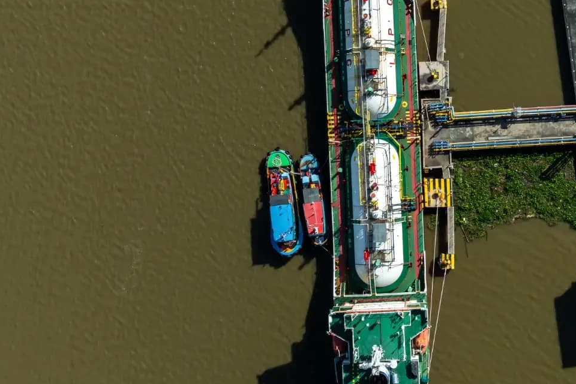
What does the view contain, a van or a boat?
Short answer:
boat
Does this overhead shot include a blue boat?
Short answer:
Yes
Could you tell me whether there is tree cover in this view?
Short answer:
No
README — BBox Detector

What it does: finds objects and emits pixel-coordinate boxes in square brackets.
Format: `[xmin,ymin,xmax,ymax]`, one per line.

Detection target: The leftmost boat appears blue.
[264,148,304,258]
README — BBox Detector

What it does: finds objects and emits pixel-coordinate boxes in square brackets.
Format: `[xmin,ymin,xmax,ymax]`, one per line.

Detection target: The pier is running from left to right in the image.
[422,97,576,169]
